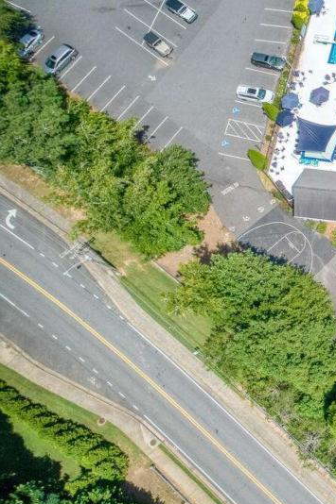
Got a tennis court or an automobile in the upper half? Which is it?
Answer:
automobile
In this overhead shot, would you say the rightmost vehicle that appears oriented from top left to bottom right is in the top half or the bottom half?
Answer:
top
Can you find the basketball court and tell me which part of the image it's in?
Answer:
right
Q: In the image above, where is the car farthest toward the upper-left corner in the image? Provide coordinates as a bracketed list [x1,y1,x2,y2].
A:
[14,29,44,58]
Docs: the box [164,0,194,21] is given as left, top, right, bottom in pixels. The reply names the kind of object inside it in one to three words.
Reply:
vehicle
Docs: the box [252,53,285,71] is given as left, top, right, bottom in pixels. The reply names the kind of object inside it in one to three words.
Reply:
car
